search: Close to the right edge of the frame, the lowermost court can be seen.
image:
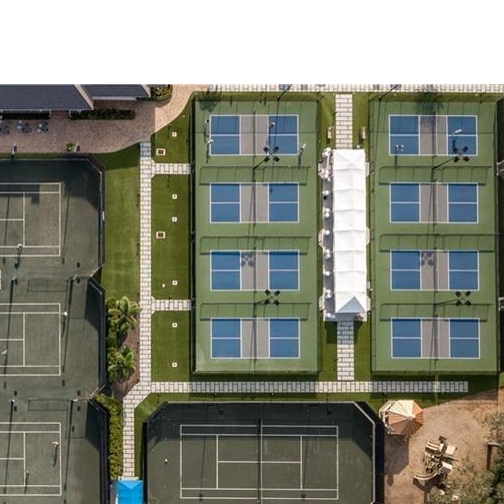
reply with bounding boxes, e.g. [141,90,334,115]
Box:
[370,304,497,371]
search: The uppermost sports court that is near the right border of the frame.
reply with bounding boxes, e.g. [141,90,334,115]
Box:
[370,101,497,169]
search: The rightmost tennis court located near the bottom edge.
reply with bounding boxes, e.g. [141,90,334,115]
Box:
[147,403,373,504]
